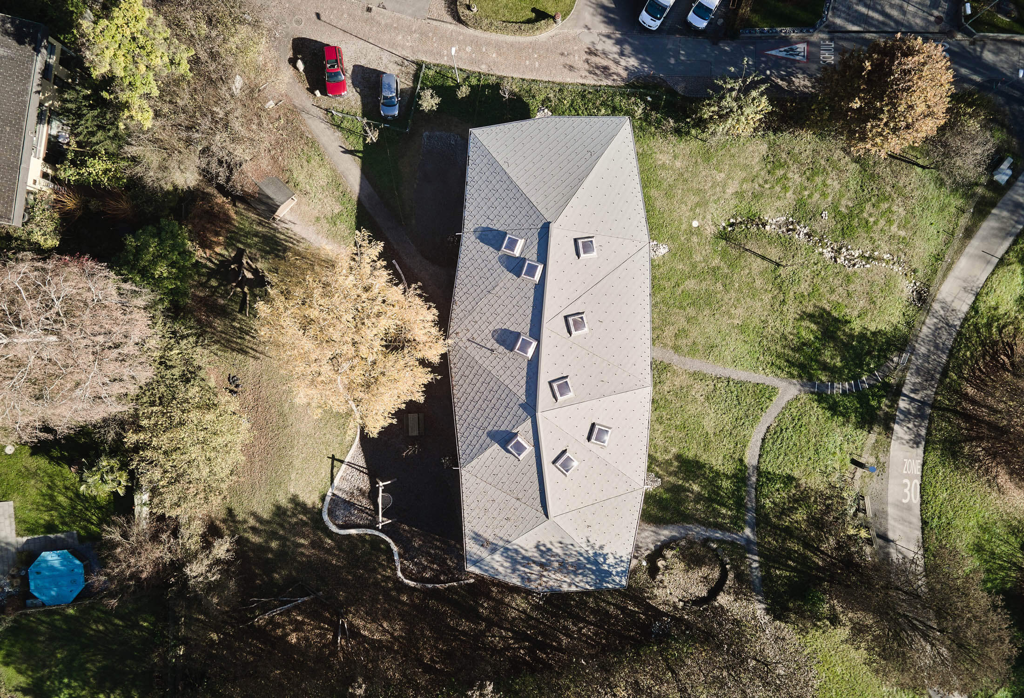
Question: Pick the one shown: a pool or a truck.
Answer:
pool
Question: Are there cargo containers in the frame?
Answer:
No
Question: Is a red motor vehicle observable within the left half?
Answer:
Yes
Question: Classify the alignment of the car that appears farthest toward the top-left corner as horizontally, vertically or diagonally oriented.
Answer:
vertically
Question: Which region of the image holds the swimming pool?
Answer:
bottom left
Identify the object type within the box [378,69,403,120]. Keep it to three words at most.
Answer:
car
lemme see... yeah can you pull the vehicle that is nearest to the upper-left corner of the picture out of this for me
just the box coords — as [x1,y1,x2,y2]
[323,42,348,97]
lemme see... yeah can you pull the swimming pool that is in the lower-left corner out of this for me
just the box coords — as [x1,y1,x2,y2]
[29,547,91,606]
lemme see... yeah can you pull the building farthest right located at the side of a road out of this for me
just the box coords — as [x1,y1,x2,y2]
[446,114,656,600]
